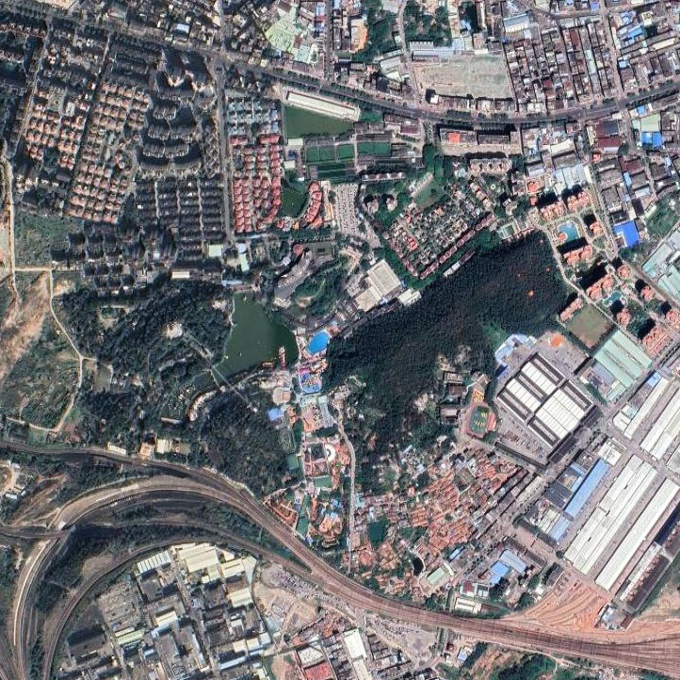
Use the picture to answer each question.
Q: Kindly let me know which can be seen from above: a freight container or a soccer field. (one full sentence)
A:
The image shows a soccer field.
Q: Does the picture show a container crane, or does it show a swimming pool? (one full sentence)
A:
It is a swimming pool that can be seen here.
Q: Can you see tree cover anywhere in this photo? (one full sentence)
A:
Yes, there's tree cover in this view.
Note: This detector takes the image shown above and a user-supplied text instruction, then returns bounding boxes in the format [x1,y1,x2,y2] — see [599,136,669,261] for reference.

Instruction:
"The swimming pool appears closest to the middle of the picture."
[308,332,329,354]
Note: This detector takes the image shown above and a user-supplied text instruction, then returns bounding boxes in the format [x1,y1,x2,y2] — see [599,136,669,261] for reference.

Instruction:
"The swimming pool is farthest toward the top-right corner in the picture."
[559,221,579,242]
